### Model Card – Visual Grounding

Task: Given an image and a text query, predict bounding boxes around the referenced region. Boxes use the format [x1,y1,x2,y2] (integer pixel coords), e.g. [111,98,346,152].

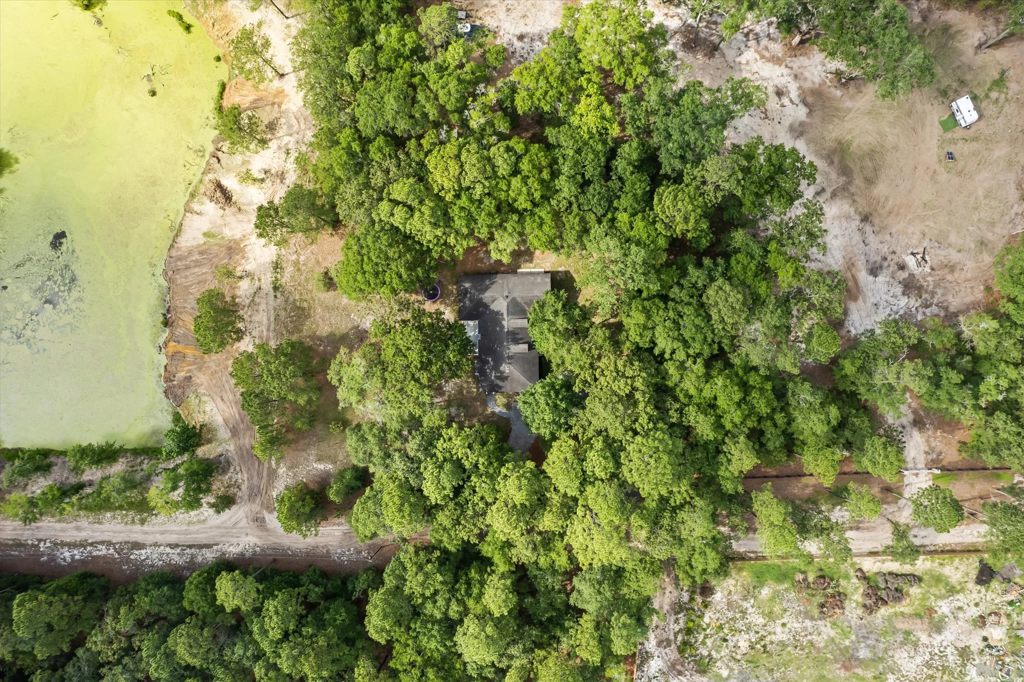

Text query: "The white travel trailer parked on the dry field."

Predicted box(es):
[949,96,977,132]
